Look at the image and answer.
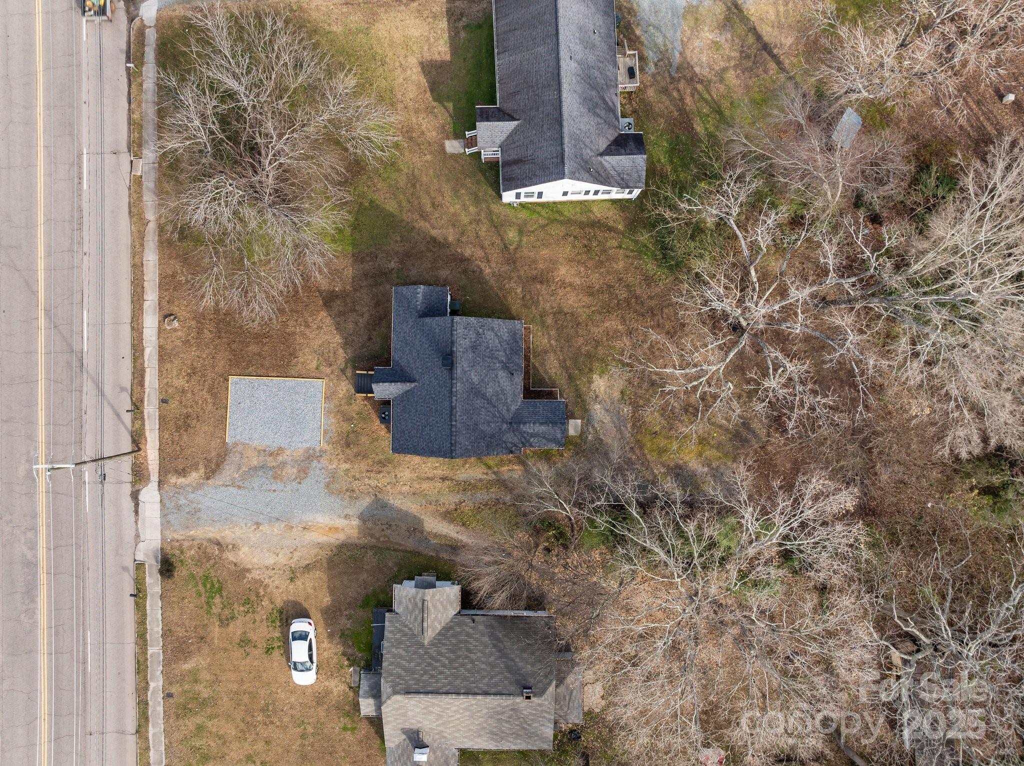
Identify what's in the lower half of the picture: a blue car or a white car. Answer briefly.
white car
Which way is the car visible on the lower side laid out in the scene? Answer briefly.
from top to bottom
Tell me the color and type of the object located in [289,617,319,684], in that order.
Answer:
white car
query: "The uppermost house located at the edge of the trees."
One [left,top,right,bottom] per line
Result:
[474,0,649,203]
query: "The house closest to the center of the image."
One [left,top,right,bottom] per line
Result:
[371,285,567,458]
